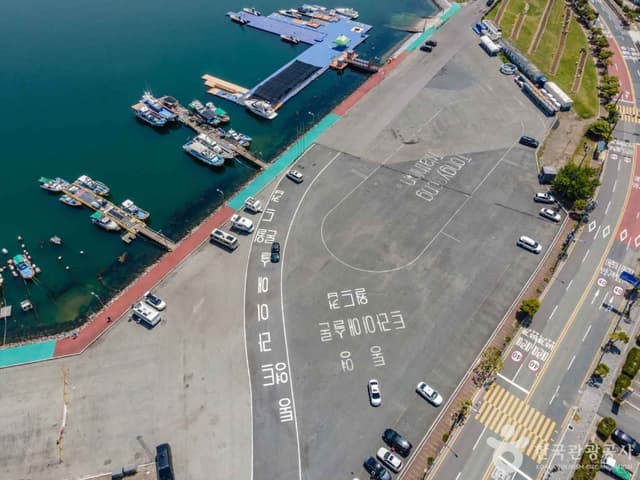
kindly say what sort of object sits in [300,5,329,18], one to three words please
boat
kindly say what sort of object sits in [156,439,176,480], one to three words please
vehicle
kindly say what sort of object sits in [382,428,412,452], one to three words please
car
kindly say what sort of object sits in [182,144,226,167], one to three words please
boat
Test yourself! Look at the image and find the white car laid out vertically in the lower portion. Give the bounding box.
[369,378,382,407]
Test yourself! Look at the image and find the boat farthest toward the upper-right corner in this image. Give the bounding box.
[336,5,361,18]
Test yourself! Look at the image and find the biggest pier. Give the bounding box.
[226,10,372,108]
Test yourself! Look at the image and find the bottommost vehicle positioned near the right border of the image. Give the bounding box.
[597,452,635,480]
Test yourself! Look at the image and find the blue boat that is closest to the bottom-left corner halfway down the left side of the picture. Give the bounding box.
[14,251,34,279]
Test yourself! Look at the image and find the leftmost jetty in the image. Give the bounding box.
[61,182,147,232]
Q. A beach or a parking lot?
parking lot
